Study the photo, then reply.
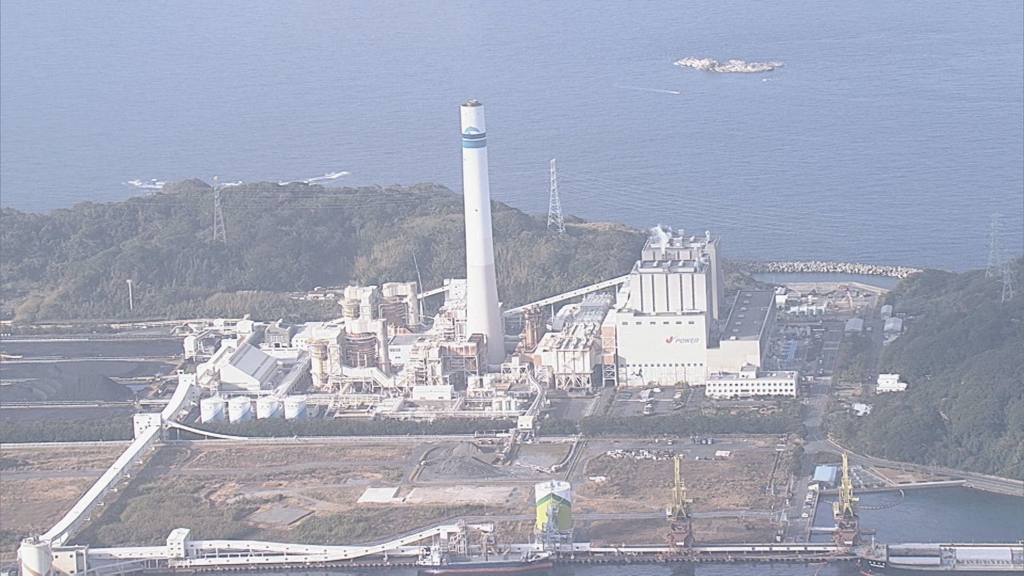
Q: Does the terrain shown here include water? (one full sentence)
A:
Yes, there's water in this view.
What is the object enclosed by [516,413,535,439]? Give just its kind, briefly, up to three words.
house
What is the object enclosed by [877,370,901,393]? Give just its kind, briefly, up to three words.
house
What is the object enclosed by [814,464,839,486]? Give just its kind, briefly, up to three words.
shed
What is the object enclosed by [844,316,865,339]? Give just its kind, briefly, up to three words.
shed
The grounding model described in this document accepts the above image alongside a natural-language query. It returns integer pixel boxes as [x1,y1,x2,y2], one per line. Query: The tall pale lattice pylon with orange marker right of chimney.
[546,158,564,236]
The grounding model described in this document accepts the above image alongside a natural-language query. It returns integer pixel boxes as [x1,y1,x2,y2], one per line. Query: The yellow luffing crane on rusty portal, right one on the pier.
[827,451,867,555]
